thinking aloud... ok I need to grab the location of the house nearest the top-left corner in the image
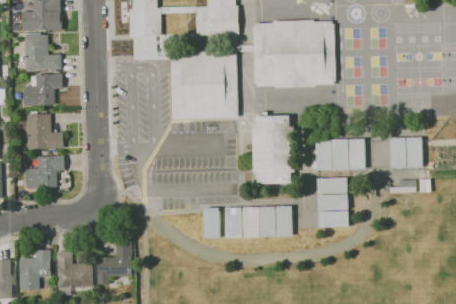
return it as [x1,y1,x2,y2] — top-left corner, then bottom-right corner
[20,0,62,32]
